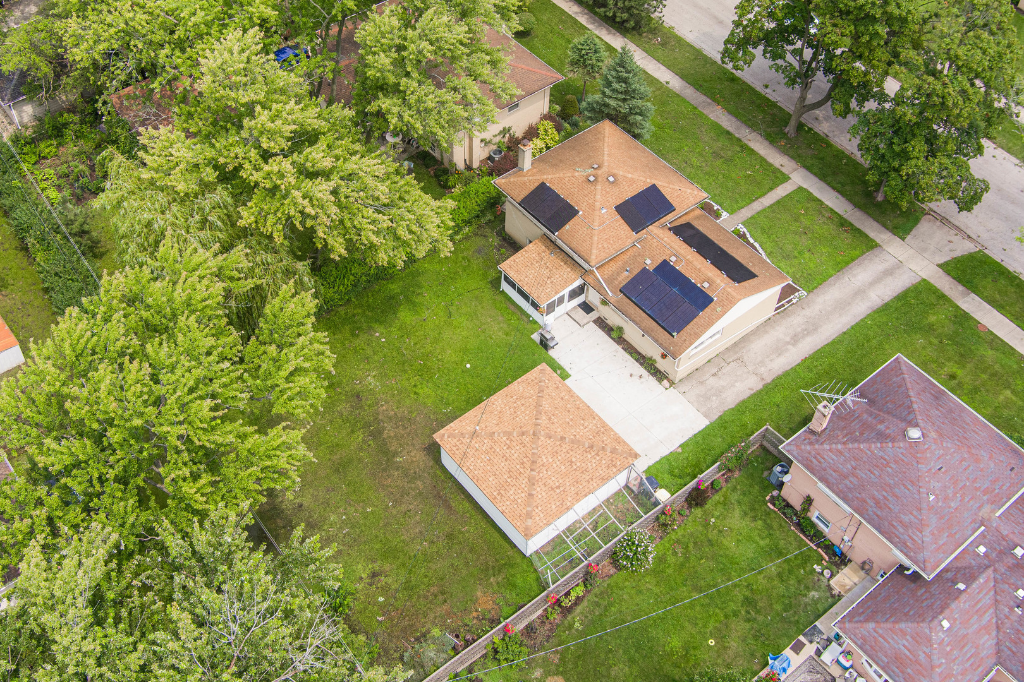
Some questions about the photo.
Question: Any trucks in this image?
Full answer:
No, the scene contains no truck.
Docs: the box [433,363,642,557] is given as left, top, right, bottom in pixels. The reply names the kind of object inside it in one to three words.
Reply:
building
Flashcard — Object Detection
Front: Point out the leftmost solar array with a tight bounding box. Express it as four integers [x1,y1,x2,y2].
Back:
[519,181,581,235]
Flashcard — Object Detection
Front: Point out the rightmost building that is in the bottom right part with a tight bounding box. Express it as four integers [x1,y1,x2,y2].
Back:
[776,352,1024,682]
